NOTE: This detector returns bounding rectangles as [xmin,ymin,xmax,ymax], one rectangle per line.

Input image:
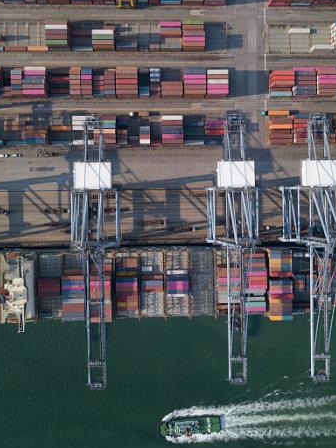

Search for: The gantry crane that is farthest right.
[278,114,336,384]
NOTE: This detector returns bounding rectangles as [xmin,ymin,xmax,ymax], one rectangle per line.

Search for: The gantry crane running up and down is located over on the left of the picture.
[70,116,123,391]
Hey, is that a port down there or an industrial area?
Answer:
port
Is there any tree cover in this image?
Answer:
No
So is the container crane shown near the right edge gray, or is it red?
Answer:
gray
